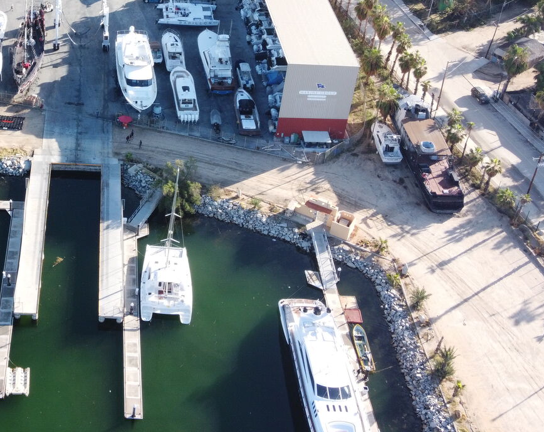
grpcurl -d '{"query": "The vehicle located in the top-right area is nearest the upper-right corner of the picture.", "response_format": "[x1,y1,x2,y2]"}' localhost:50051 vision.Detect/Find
[468,84,493,104]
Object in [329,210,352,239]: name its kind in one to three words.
building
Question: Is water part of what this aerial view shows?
Yes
